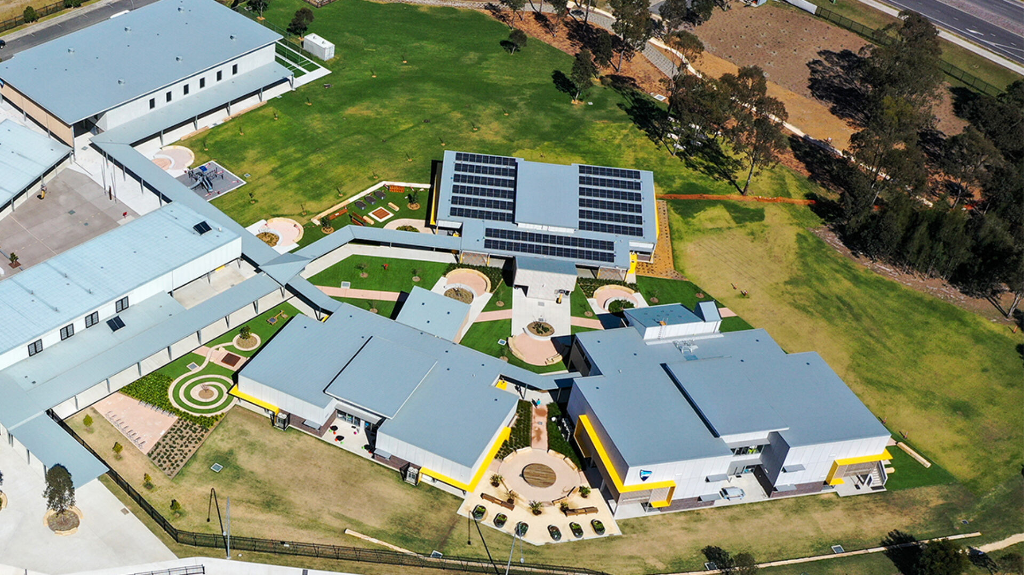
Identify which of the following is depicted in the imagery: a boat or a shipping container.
shipping container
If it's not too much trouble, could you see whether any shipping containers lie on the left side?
Yes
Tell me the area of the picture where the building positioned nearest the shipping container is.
top left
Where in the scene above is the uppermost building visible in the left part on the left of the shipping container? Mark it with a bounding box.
[0,0,283,162]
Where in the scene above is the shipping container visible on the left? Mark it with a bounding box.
[304,30,336,60]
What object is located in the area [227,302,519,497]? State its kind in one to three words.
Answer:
building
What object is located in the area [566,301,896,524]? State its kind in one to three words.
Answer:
building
